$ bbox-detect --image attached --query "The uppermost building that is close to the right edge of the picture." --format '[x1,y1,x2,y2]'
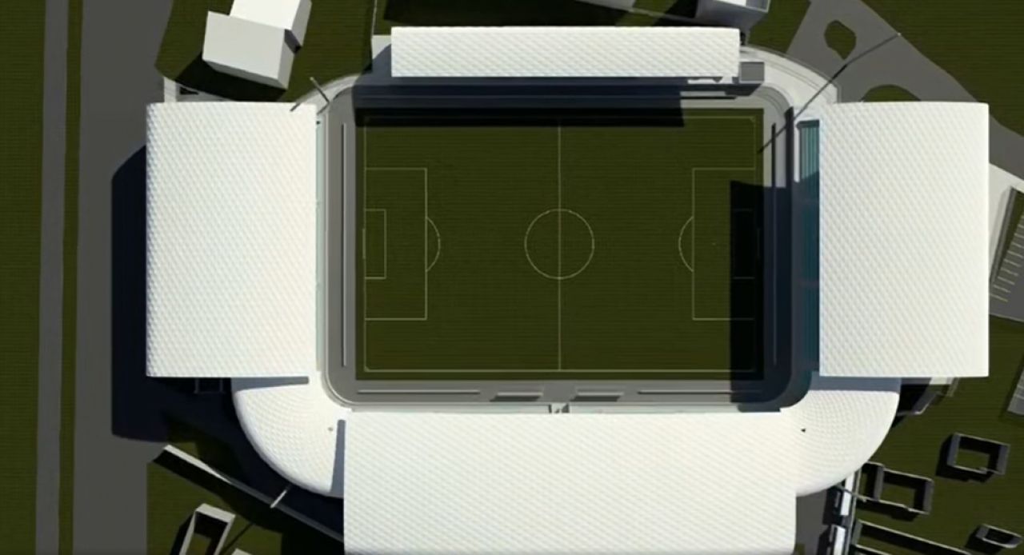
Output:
[947,434,1010,475]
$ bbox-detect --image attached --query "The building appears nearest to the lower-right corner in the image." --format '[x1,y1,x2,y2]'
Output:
[974,524,1021,548]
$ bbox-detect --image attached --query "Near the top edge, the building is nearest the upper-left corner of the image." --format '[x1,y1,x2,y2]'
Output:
[202,0,317,89]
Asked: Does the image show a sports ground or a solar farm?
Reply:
sports ground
